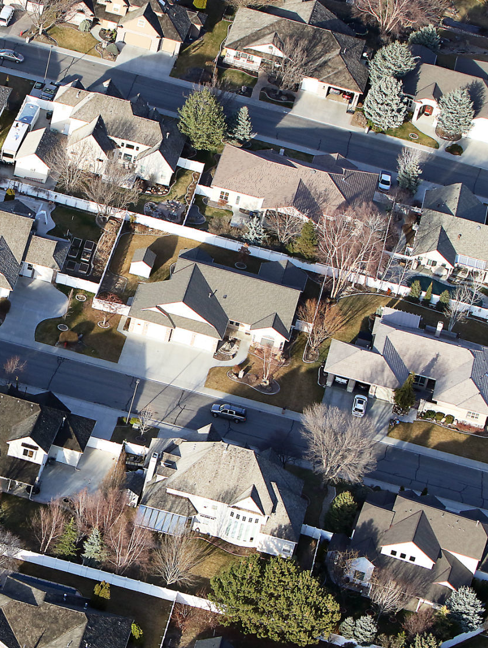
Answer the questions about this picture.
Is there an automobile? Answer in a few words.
Yes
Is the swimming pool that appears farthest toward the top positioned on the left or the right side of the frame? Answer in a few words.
right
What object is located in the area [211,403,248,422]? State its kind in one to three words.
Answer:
car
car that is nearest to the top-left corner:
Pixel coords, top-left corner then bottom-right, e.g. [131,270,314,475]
[0,6,16,22]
